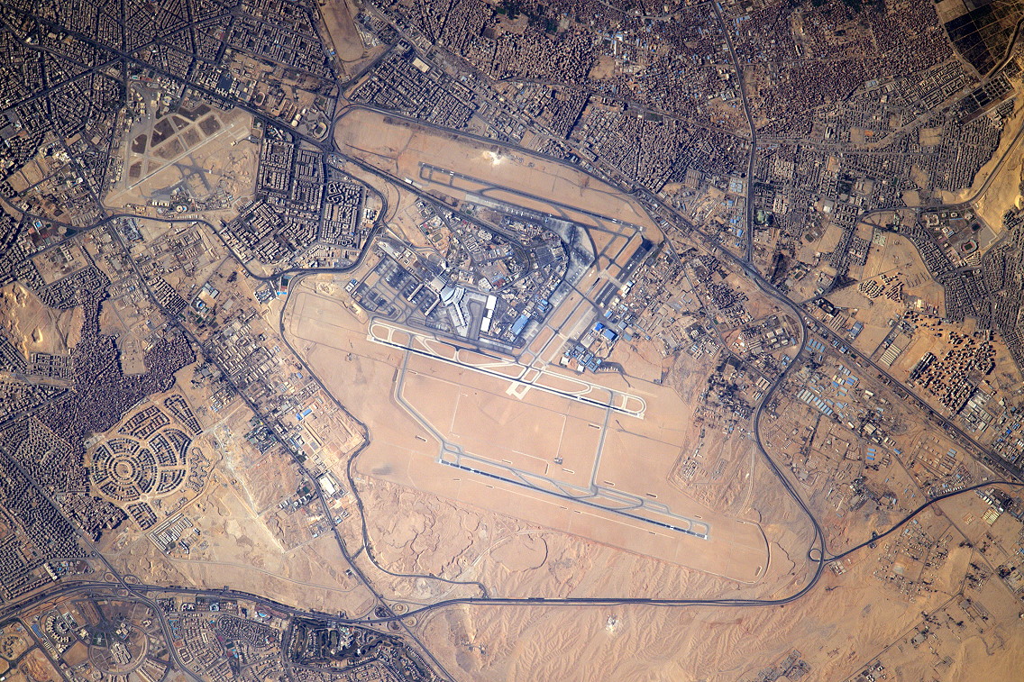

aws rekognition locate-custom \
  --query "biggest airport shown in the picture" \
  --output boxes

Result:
[352,161,758,568]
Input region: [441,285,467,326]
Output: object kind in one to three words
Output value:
building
